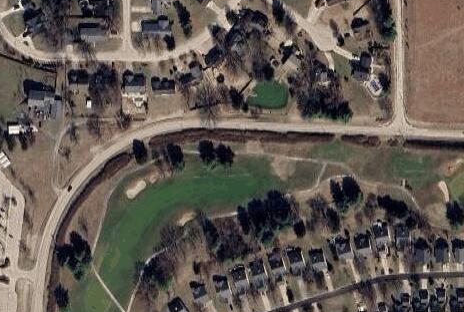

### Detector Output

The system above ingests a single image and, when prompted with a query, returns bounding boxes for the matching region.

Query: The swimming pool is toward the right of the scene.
[368,77,385,95]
